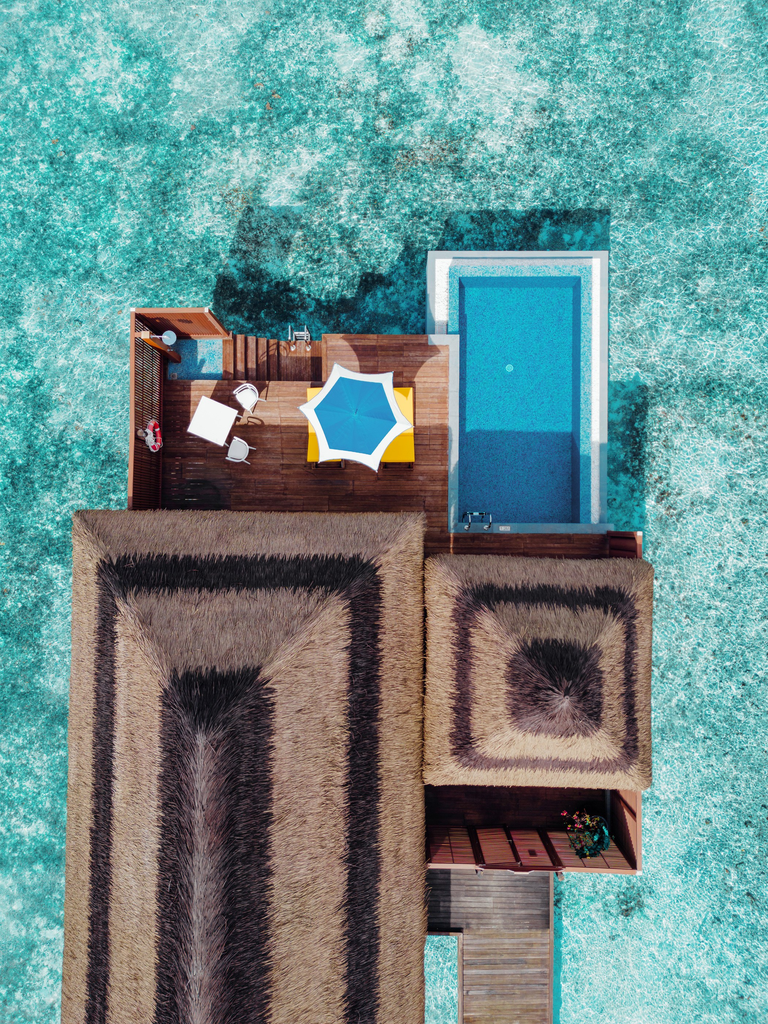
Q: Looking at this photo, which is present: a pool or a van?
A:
pool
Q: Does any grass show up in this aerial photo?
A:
No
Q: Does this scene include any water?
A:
Yes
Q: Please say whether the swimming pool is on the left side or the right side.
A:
right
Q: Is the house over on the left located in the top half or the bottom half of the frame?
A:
bottom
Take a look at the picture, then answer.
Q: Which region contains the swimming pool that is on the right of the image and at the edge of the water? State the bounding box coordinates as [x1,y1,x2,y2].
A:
[425,251,614,532]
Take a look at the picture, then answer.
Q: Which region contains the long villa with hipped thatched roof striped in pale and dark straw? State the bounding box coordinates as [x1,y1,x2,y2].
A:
[59,508,426,1024]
